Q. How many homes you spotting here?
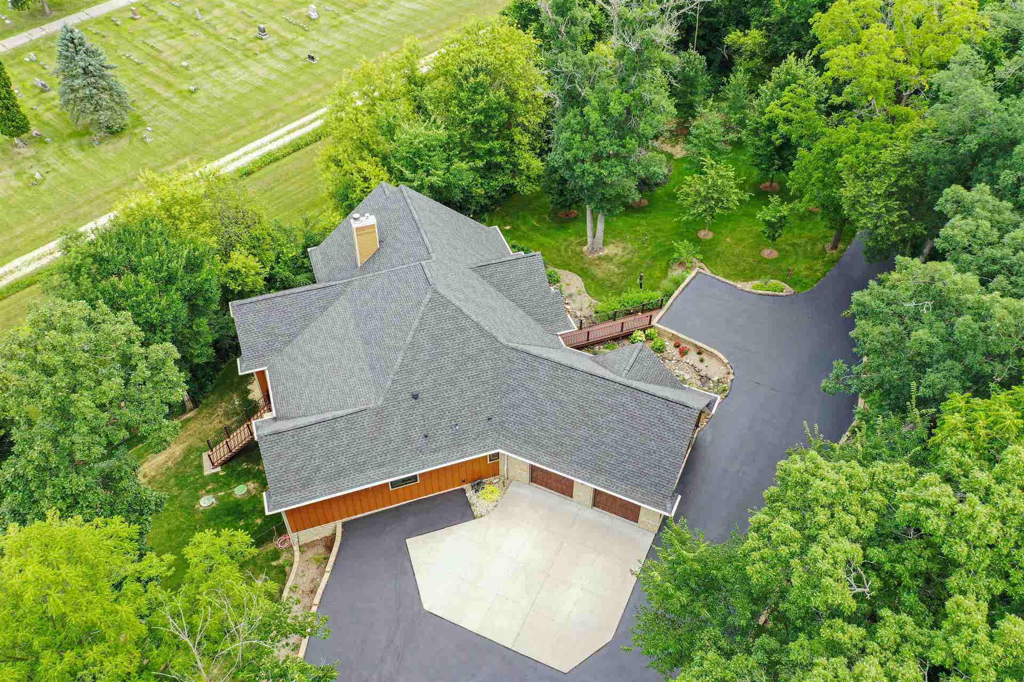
1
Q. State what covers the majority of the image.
trees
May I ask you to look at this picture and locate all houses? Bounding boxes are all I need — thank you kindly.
[231,180,721,542]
